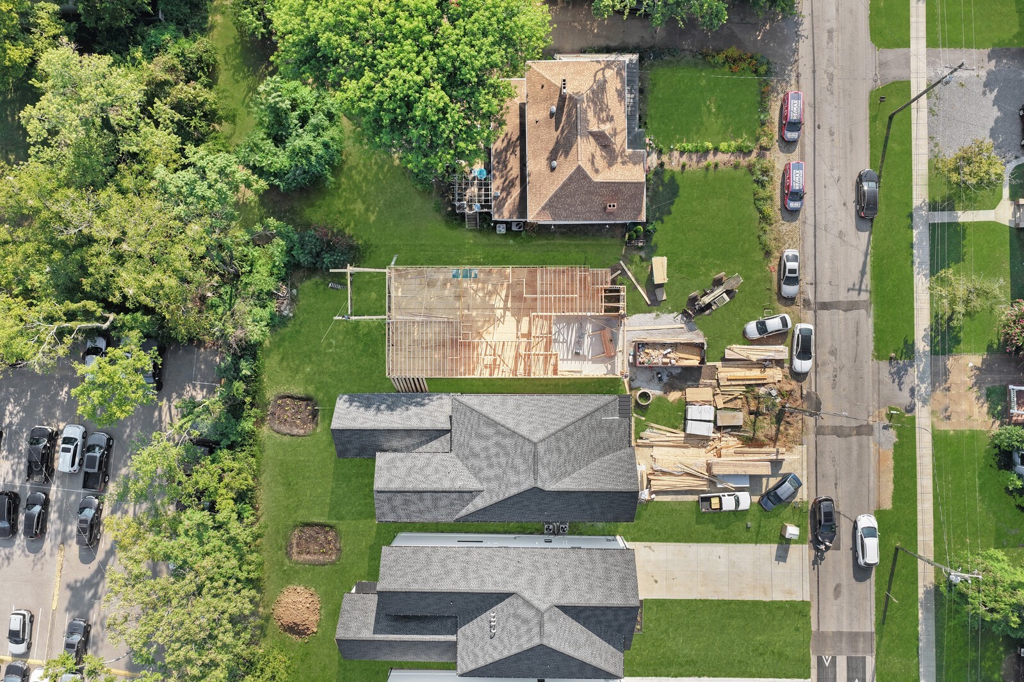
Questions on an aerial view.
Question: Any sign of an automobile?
Yes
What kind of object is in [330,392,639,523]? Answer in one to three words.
house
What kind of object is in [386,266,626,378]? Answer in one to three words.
house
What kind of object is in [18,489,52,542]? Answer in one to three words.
car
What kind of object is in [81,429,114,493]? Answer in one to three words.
truck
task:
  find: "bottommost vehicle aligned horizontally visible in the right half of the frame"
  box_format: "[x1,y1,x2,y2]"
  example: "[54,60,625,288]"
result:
[695,490,751,515]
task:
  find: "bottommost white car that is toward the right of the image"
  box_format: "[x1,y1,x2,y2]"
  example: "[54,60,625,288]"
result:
[850,513,881,569]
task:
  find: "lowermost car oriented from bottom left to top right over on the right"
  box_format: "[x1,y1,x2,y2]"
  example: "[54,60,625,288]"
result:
[755,469,803,513]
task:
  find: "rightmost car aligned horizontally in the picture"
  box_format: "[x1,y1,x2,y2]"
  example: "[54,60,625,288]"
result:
[740,313,793,341]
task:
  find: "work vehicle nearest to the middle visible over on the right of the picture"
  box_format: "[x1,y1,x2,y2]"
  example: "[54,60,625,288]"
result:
[670,272,748,329]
